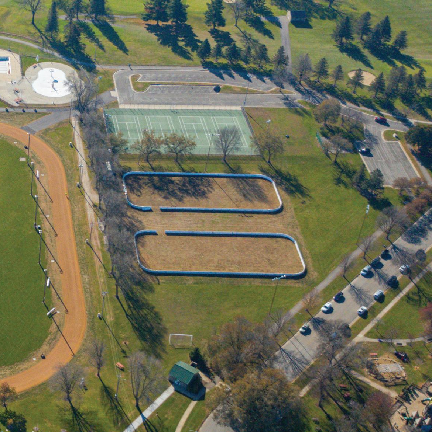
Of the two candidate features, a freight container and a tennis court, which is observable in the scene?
tennis court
